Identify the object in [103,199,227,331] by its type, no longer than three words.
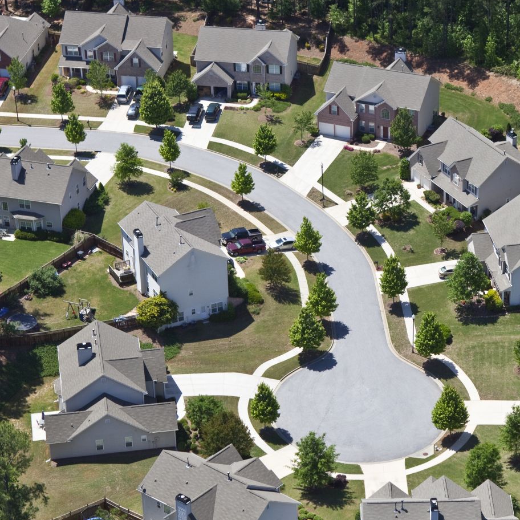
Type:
house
